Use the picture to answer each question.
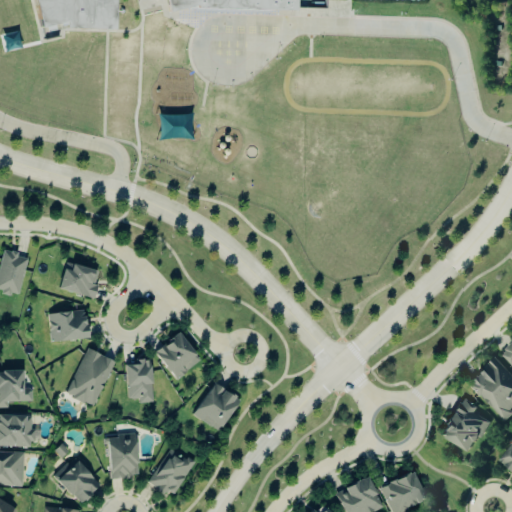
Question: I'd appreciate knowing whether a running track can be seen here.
Yes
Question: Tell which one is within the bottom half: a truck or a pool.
pool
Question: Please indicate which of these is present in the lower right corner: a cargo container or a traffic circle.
traffic circle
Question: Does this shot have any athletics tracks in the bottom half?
No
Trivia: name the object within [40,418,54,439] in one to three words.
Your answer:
swimming pool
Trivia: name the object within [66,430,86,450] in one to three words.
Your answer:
swimming pool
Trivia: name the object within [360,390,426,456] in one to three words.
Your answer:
roundabout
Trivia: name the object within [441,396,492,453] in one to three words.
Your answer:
house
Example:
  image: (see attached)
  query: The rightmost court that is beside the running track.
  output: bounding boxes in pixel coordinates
[192,14,305,84]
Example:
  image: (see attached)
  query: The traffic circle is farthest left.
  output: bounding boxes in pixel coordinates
[230,330,269,379]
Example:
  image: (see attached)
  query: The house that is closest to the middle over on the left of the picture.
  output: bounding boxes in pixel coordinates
[155,332,202,378]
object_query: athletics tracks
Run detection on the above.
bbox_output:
[284,57,450,114]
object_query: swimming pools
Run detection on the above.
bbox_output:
[66,430,86,450]
[140,434,160,456]
[40,418,54,439]
[60,396,78,418]
[26,457,38,477]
